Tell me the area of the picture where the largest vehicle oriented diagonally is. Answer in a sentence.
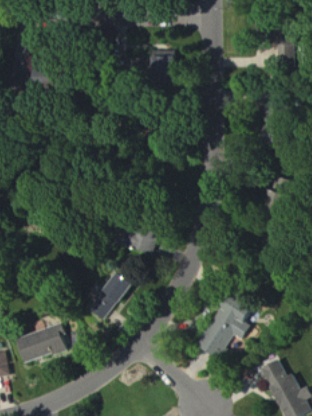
The largest vehicle oriented diagonally appears toward the bottom of the photo.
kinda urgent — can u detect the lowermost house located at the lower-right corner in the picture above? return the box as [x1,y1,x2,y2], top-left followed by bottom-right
[260,358,312,416]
